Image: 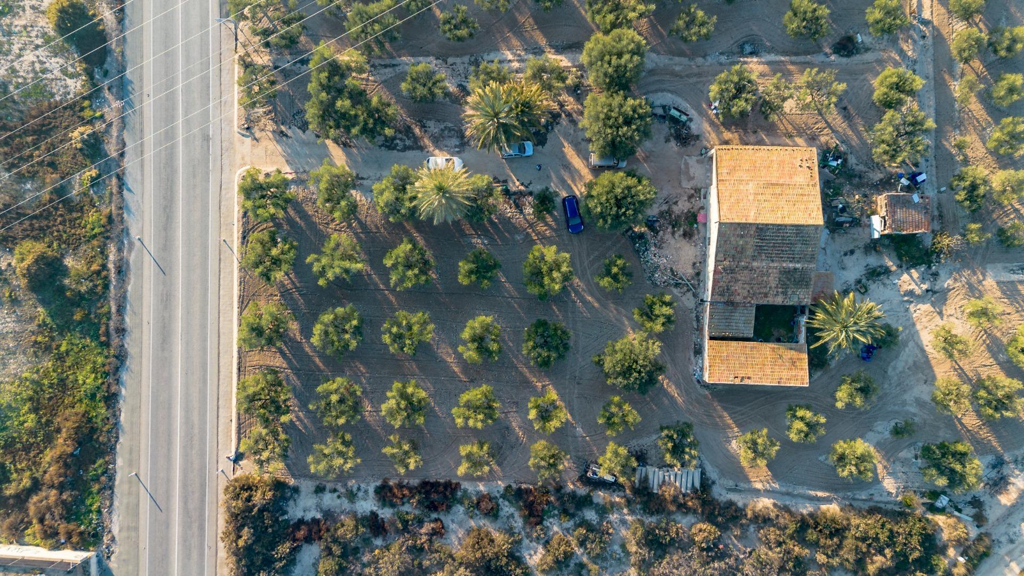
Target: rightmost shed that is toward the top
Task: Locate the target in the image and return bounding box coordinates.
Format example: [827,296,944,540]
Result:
[872,194,931,234]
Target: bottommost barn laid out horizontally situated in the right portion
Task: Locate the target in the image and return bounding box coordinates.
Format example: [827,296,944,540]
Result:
[696,340,810,388]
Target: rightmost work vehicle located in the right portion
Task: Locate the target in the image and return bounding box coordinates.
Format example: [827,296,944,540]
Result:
[817,149,849,171]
